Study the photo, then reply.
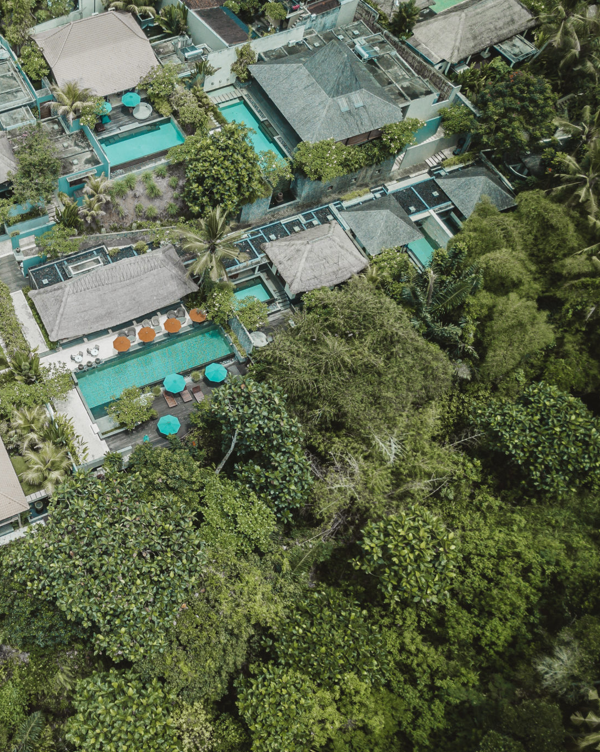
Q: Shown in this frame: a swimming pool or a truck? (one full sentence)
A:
Looking from above, you can make out a swimming pool.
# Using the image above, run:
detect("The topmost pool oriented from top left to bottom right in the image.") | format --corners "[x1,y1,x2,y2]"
[215,95,292,181]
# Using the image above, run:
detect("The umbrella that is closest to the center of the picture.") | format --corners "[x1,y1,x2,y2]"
[205,364,226,385]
